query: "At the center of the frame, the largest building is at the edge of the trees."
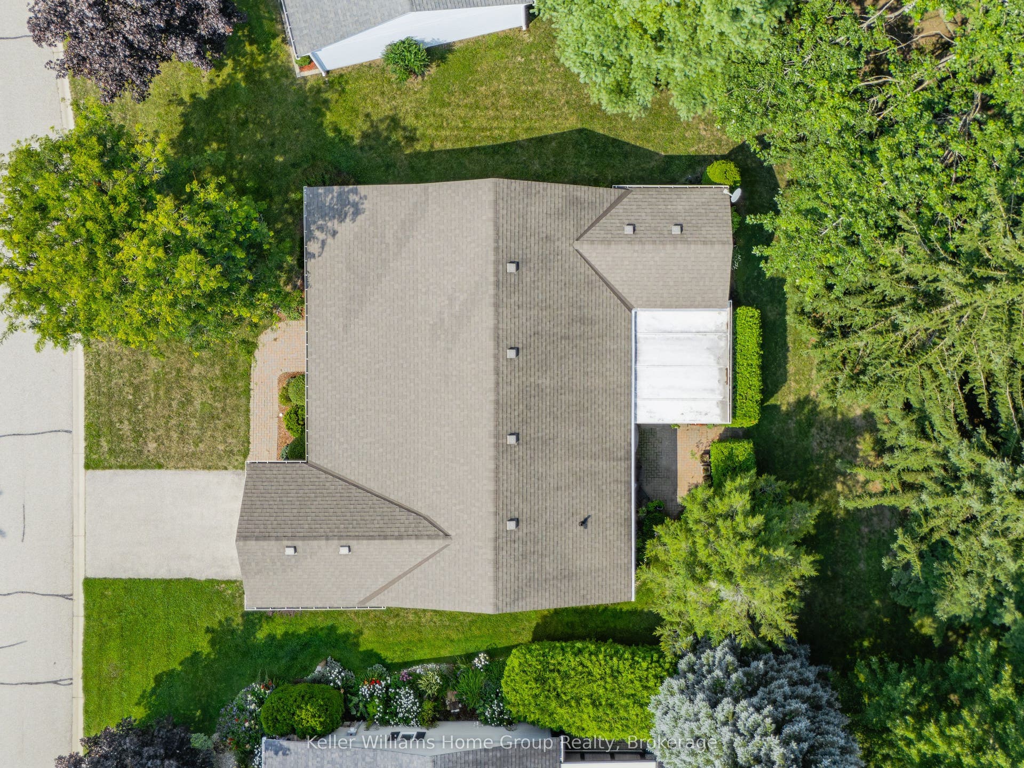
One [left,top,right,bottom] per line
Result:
[238,178,734,614]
